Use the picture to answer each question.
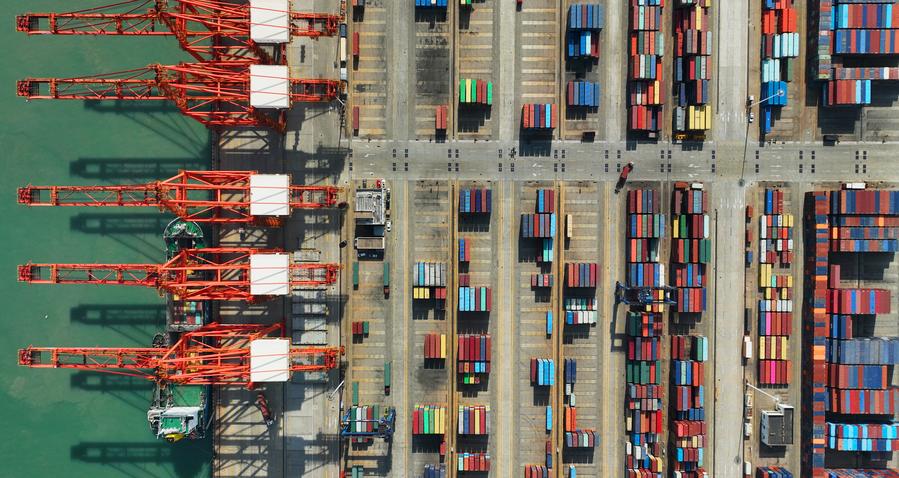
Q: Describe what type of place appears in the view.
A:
port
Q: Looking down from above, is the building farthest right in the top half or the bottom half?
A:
bottom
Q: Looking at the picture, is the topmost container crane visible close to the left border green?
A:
No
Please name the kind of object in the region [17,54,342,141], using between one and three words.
container crane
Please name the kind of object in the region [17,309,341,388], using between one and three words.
container crane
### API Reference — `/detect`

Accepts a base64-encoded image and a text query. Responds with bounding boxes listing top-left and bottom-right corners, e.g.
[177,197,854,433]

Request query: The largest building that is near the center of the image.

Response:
[356,190,385,224]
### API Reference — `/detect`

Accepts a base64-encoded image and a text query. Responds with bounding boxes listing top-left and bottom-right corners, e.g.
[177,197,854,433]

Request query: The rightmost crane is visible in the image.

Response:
[618,280,679,307]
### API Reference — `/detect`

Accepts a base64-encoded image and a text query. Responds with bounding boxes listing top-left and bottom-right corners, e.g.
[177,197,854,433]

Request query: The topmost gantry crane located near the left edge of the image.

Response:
[17,0,342,77]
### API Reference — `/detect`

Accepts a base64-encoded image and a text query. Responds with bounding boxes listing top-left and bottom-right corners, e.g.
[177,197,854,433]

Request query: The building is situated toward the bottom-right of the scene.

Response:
[761,400,795,445]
